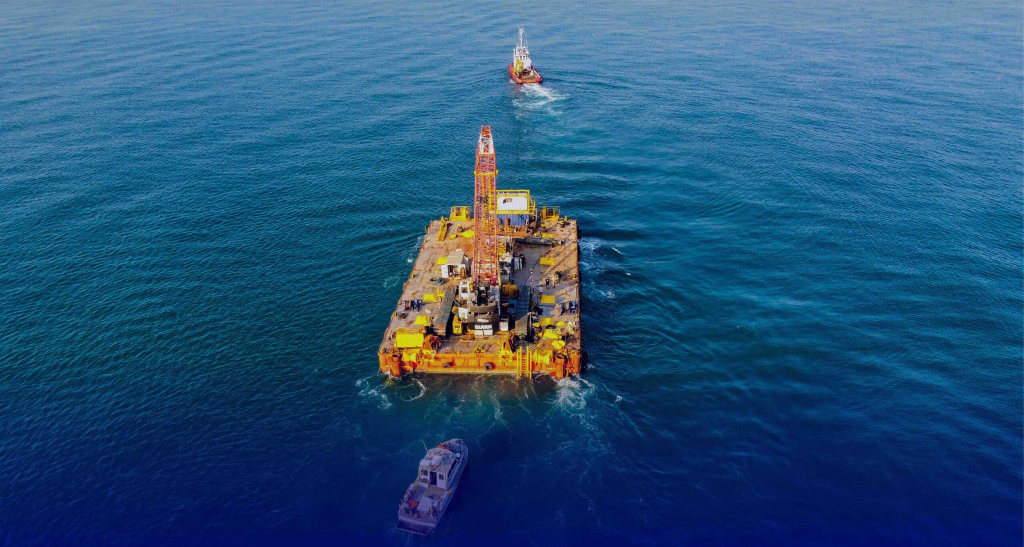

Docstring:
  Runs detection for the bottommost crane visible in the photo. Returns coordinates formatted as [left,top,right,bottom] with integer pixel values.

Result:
[433,123,531,340]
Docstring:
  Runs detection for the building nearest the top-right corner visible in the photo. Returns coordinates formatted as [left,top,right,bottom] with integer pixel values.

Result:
[488,184,538,218]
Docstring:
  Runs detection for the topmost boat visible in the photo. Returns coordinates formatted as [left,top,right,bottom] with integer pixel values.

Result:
[509,22,542,83]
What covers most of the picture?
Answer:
water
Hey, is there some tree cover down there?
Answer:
No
